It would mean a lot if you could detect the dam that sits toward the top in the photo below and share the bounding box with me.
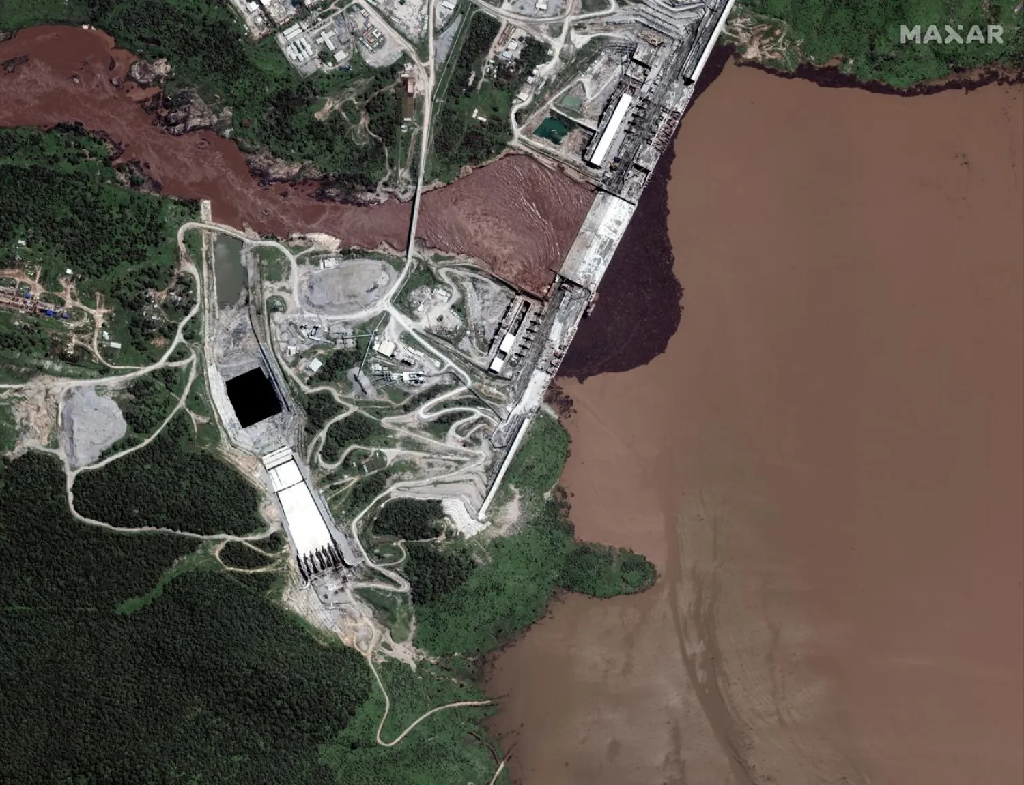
[479,0,734,521]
